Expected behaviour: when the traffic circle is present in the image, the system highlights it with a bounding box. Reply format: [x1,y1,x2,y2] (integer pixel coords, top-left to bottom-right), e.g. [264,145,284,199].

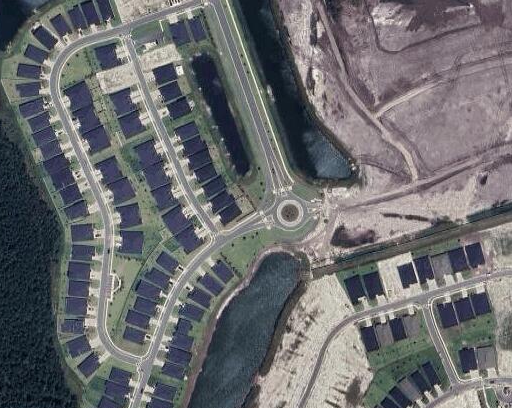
[264,184,315,231]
